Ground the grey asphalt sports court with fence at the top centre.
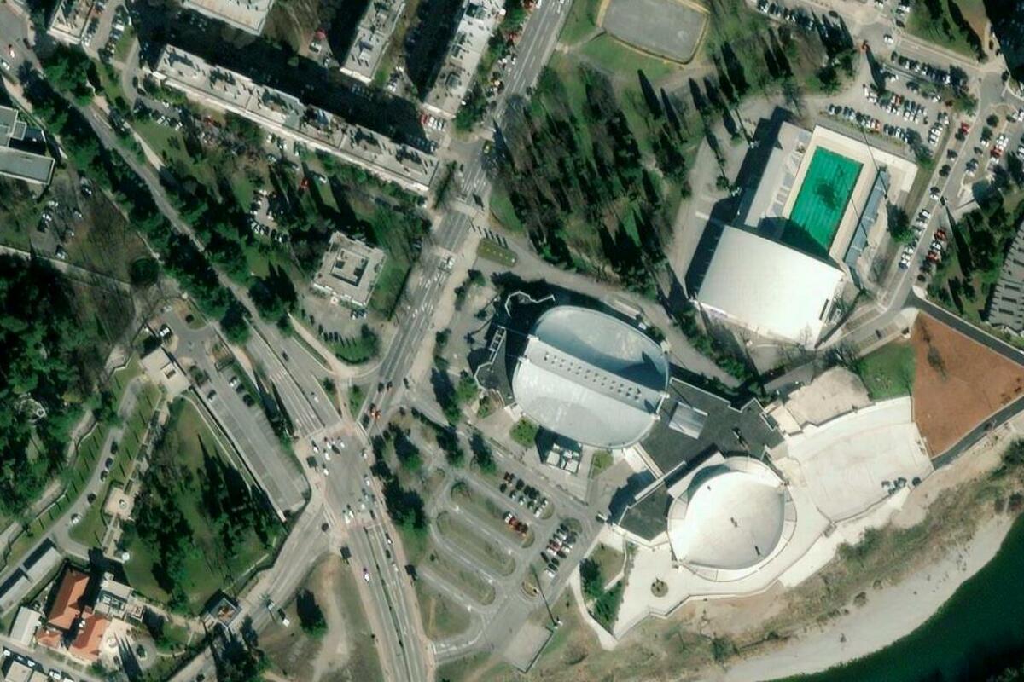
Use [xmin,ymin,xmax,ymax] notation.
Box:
[603,0,705,61]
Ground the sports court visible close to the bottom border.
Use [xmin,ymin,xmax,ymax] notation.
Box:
[512,625,552,671]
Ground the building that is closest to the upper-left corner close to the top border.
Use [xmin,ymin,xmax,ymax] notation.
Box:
[49,0,99,47]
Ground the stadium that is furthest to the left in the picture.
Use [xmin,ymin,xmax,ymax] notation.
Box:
[512,305,670,452]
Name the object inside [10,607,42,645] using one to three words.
building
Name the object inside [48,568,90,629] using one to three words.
house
